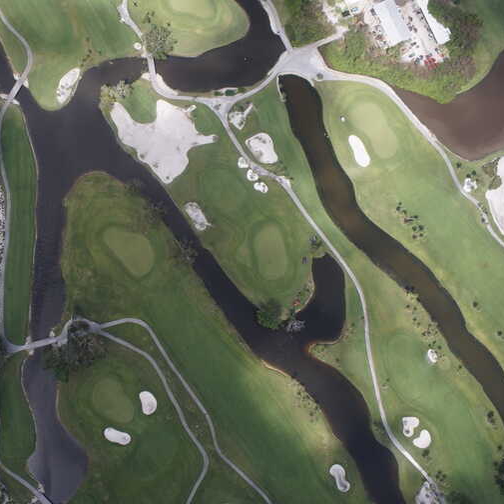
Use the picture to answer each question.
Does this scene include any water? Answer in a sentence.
Yes, water shows up in the scene.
